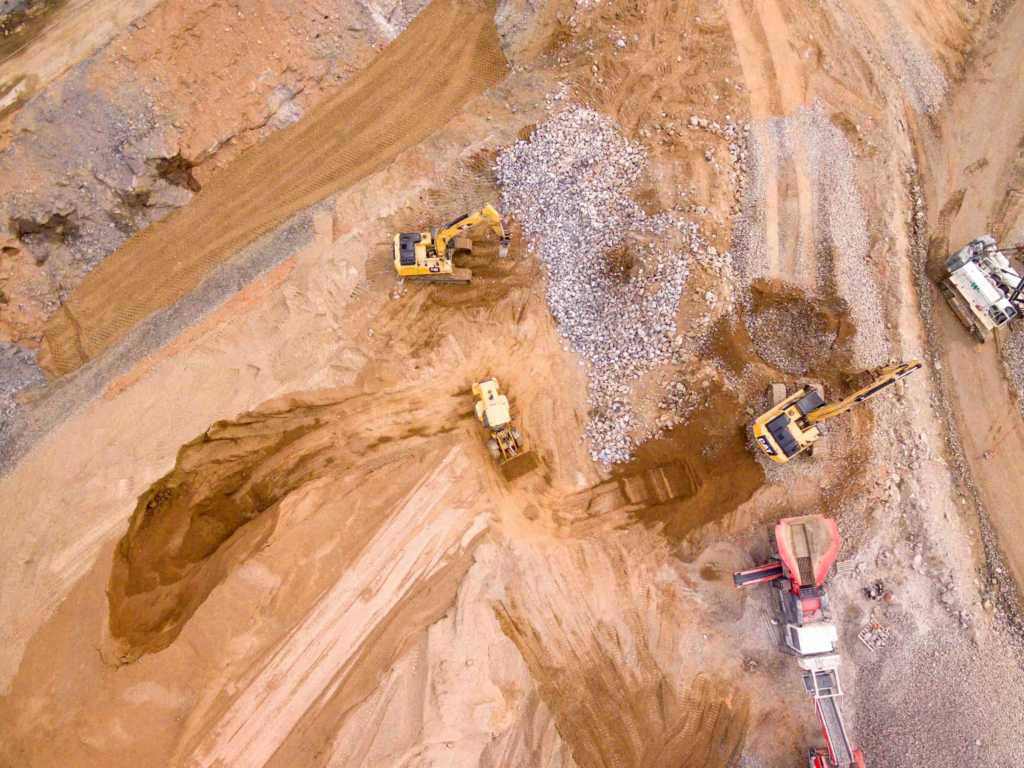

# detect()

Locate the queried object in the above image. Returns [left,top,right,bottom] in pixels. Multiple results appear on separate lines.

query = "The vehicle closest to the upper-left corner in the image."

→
[393,198,513,283]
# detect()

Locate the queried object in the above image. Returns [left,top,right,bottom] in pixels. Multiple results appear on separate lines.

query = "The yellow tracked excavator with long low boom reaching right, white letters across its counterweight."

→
[749,358,922,464]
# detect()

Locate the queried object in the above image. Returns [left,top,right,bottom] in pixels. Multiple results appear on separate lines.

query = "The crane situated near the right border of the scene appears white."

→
[933,235,1024,344]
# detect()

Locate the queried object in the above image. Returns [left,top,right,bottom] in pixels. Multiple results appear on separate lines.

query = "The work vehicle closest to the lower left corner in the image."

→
[472,378,538,483]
